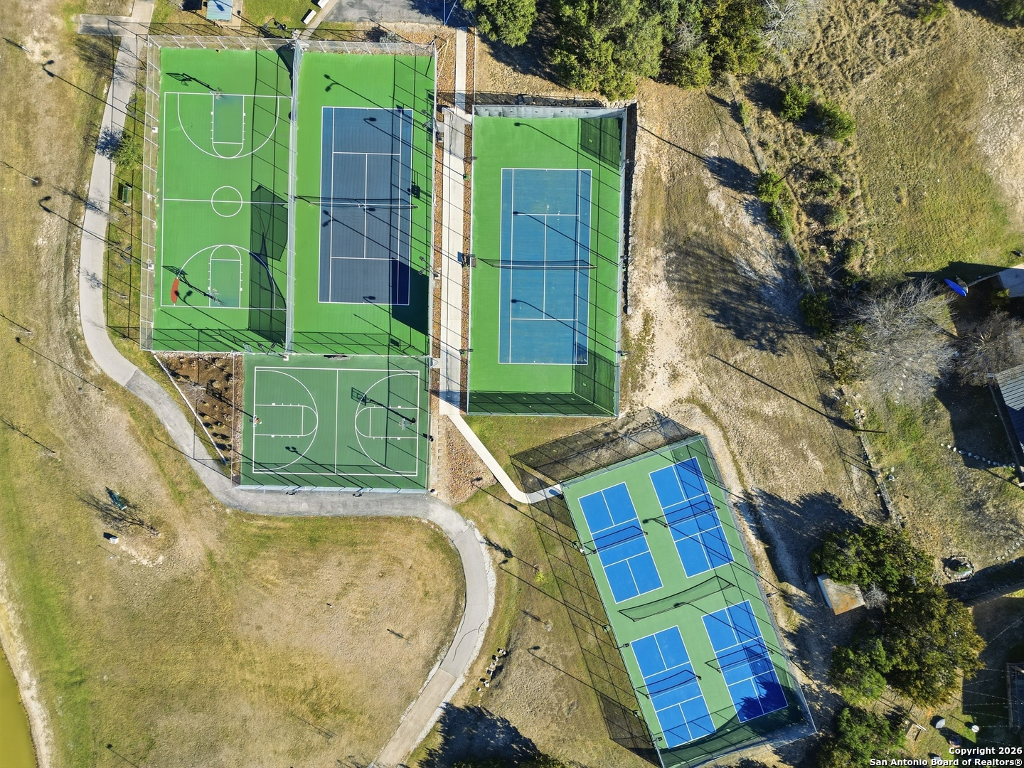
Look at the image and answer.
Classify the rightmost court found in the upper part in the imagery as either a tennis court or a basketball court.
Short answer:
tennis court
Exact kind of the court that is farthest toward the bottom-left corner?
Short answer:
basketball court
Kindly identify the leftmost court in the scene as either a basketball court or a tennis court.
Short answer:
basketball court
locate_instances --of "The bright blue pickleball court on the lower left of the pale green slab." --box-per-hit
[630,626,716,749]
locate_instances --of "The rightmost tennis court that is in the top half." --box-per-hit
[468,118,622,414]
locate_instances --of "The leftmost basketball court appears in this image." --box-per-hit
[153,48,303,353]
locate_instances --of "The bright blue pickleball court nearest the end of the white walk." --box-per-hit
[578,482,663,604]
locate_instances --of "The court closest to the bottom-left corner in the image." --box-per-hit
[241,354,430,490]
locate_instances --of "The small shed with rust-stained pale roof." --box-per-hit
[816,566,865,615]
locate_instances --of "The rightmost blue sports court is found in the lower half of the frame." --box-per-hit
[702,600,788,724]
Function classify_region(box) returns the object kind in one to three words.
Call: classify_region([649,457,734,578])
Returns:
sports court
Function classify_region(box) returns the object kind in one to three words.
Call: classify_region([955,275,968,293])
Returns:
boat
